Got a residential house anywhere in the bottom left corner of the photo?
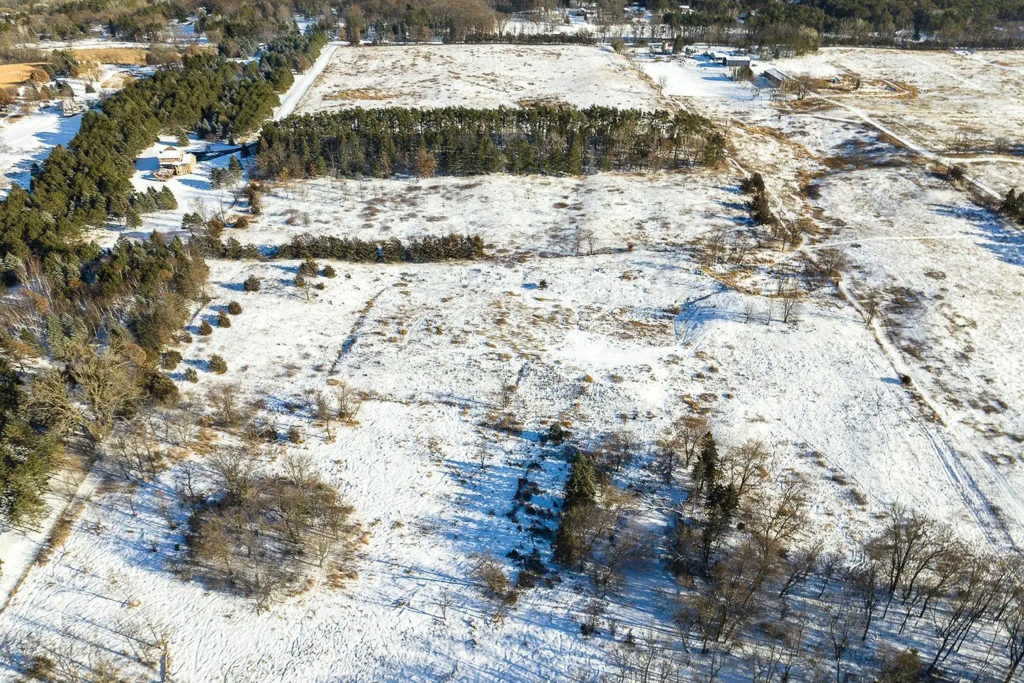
No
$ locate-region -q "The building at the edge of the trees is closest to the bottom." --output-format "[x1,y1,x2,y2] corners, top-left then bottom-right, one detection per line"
[150,149,197,178]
